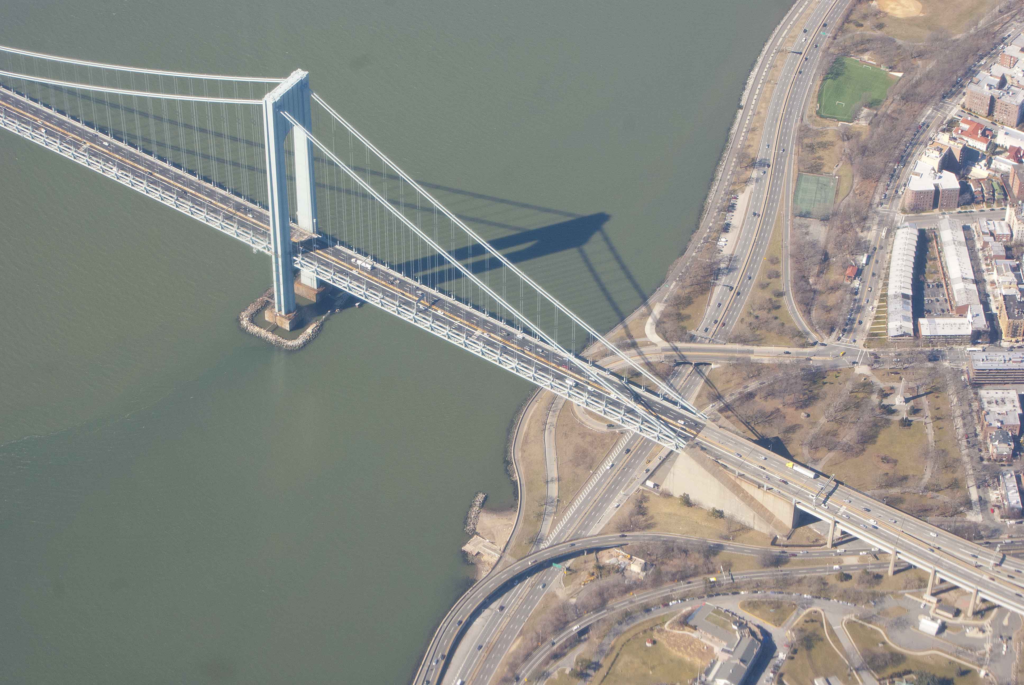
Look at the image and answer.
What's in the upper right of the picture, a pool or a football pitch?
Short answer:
football pitch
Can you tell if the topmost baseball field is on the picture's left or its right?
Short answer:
right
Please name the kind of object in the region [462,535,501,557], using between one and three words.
pier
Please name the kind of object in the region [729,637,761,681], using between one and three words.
building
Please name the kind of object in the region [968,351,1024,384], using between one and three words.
building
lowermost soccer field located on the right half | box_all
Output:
[816,56,897,122]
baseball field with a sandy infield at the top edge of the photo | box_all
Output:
[871,0,996,30]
